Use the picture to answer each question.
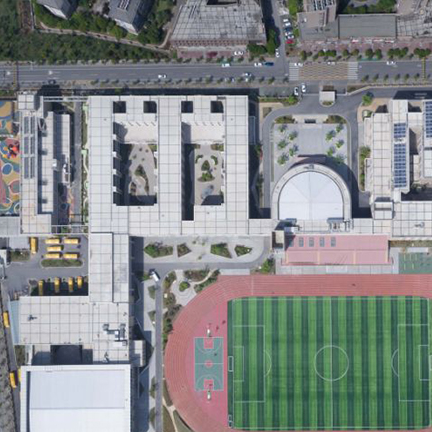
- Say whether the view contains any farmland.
No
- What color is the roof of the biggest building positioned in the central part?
white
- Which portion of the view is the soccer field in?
bottom right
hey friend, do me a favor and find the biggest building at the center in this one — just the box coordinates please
[87,95,276,303]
